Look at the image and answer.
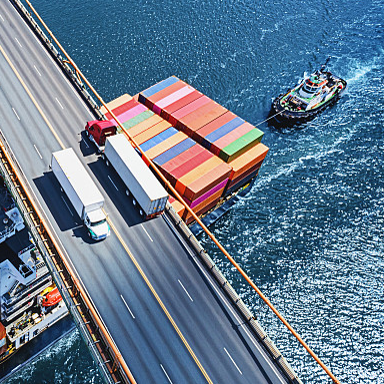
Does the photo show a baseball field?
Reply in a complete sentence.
No, no baseball field can be seen from above.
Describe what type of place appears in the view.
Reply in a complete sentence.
This image shows a port.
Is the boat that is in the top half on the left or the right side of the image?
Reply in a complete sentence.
The boat that is in the top half appears in the right half of the scene.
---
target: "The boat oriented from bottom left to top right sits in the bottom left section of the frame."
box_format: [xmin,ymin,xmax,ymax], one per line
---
[40,290,63,309]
